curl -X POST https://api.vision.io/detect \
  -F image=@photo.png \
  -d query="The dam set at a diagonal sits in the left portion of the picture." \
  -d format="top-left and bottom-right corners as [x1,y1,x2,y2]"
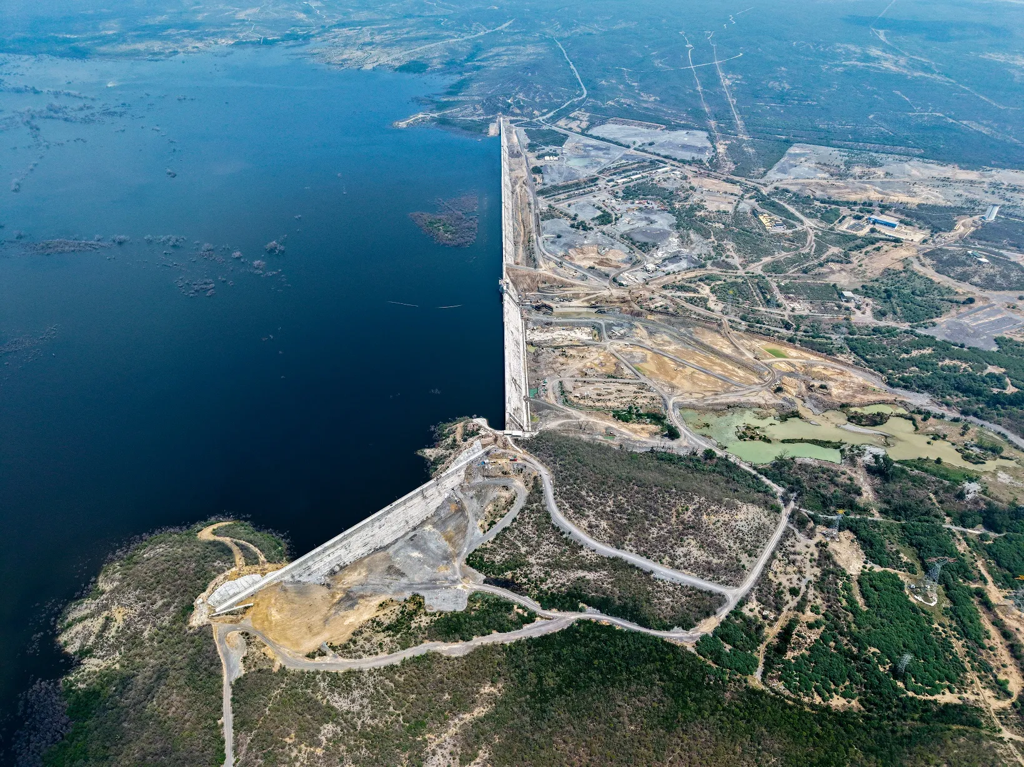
[218,443,495,615]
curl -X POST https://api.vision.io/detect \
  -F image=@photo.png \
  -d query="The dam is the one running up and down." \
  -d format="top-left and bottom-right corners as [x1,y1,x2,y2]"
[501,120,539,432]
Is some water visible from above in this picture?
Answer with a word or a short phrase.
Yes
